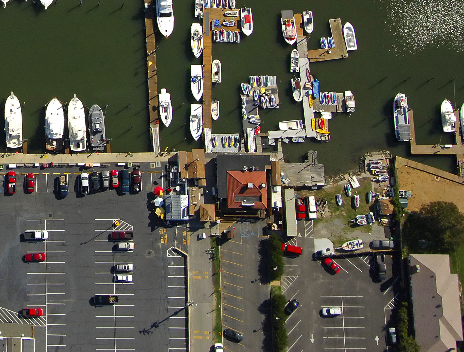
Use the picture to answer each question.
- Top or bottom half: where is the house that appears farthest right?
bottom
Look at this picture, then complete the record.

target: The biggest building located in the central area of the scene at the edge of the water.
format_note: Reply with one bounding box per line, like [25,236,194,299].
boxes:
[214,155,271,220]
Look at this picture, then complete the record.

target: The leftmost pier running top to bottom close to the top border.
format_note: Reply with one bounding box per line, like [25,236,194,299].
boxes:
[144,0,161,128]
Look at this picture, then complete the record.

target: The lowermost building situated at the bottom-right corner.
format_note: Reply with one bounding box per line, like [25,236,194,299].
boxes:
[406,254,463,352]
